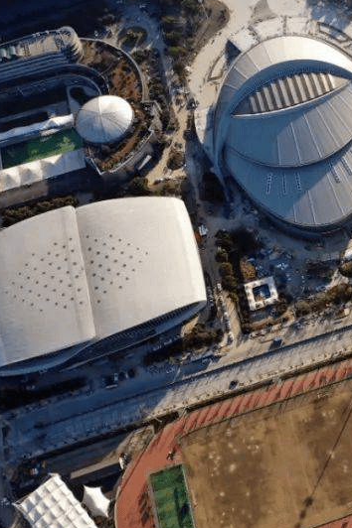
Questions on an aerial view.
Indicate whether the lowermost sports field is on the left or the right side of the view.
right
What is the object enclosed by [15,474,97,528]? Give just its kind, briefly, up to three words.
tent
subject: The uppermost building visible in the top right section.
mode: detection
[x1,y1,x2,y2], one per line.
[211,34,352,244]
